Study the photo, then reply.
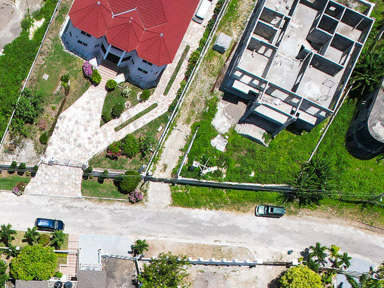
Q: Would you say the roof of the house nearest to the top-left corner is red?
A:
Yes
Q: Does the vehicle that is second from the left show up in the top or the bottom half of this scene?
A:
top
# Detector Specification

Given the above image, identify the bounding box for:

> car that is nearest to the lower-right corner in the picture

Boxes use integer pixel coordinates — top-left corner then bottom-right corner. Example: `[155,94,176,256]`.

[254,203,286,219]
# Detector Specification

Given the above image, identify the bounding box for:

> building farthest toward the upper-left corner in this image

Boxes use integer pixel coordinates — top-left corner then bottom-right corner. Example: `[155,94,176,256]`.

[67,0,199,94]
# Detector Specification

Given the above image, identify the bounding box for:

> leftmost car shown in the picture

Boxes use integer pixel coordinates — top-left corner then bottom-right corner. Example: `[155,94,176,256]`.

[35,217,65,233]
